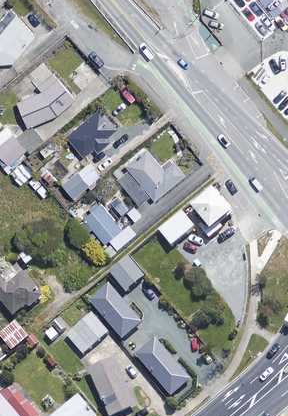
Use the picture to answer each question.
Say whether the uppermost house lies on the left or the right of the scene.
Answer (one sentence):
It is on the left.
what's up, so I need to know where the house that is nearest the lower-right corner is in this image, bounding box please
[136,338,190,395]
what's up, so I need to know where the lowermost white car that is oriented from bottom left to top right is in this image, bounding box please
[259,367,274,382]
